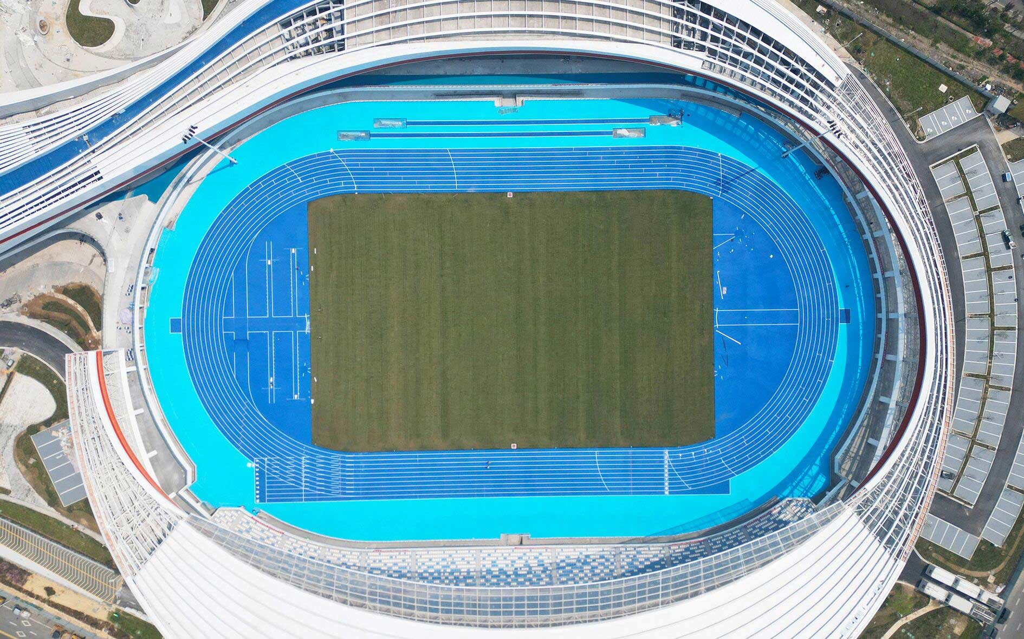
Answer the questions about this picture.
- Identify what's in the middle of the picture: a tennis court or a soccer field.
soccer field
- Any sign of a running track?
Yes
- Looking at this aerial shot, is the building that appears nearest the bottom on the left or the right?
right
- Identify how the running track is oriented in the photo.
from left to right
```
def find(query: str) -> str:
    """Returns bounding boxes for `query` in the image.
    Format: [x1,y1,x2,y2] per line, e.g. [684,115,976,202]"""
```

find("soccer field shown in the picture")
[306,188,716,453]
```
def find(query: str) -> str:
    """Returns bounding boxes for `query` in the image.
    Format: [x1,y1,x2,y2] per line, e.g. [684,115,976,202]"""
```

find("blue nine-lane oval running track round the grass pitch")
[170,145,851,504]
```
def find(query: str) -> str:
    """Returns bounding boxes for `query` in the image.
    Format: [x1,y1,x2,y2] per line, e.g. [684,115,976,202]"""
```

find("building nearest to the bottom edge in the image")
[986,95,1011,116]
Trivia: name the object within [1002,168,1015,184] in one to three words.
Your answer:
vehicle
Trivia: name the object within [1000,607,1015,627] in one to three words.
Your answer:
car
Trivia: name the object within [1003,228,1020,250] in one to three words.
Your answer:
vehicle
